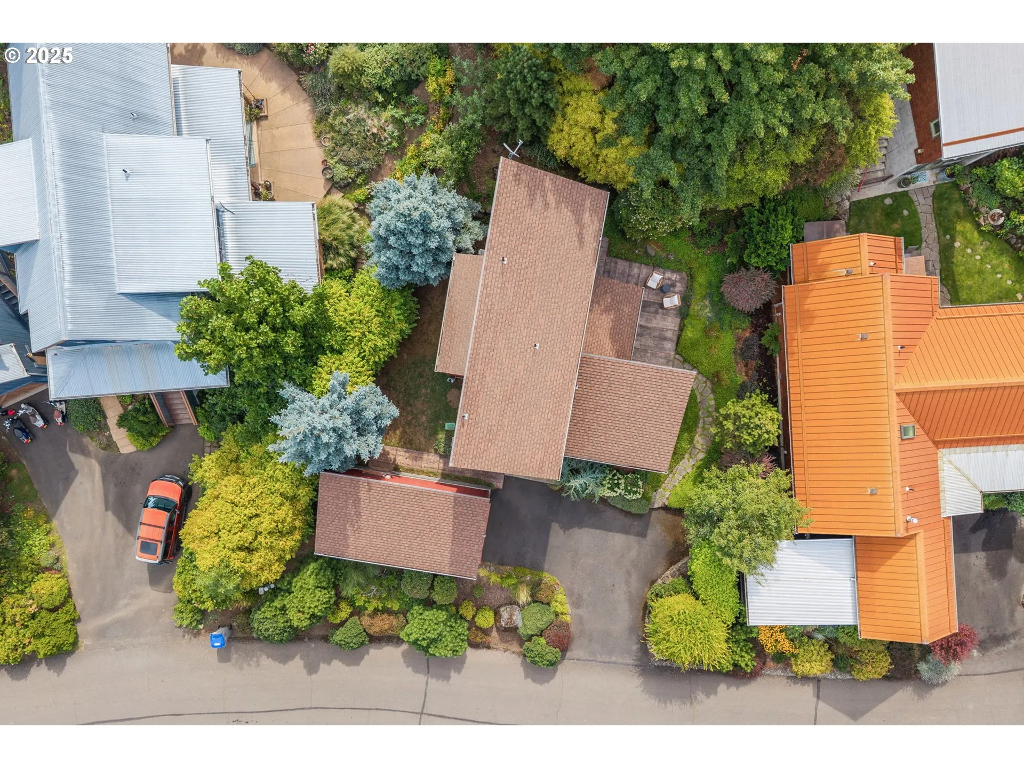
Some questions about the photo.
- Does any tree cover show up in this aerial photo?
Yes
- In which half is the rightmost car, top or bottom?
bottom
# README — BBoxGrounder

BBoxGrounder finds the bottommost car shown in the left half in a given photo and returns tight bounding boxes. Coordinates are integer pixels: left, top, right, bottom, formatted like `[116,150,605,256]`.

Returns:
[135,473,195,564]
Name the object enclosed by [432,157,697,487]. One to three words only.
house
